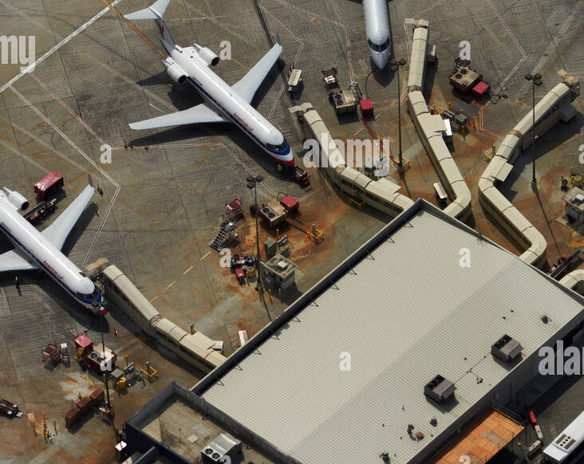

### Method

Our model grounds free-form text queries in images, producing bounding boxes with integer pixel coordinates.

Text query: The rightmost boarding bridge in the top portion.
[478,70,583,272]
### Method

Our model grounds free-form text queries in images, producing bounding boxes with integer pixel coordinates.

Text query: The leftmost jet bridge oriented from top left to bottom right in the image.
[84,257,226,381]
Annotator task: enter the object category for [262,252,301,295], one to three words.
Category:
shed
